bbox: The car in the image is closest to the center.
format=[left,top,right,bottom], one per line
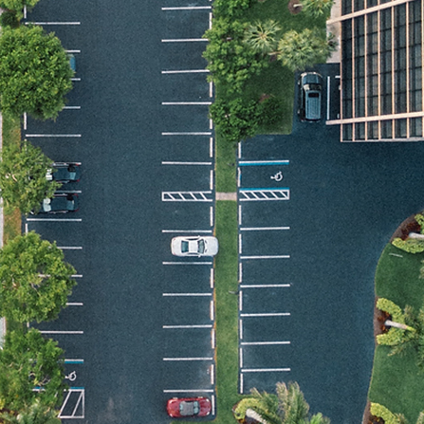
[172,235,220,259]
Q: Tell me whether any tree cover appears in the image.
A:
Yes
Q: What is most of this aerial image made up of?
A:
paved ground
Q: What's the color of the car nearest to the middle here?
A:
white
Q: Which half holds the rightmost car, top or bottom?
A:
top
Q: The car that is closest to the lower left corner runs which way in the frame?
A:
horizontally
